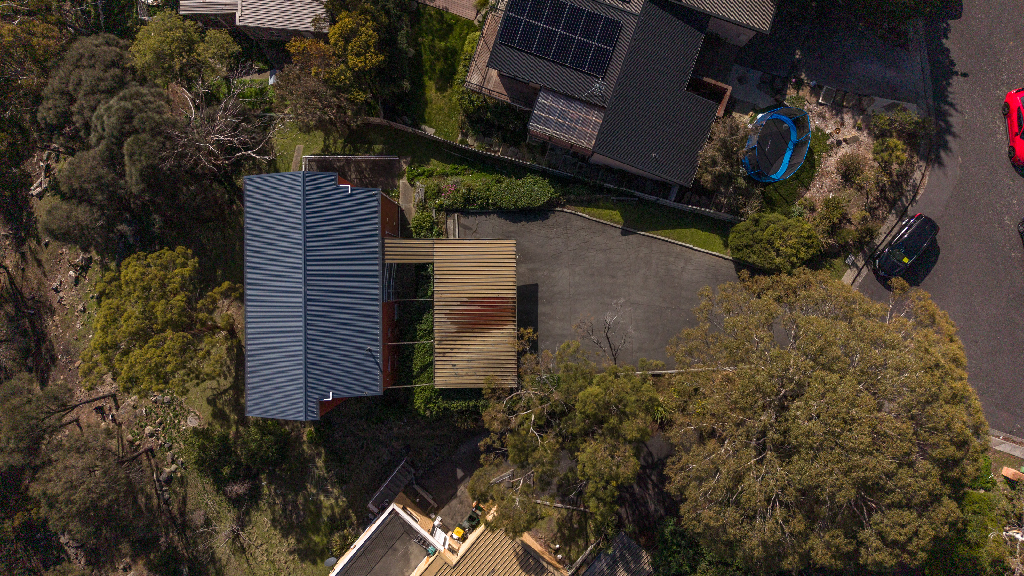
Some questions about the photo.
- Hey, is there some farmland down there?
No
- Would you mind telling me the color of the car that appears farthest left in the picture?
black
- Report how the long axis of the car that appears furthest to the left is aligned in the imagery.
diagonally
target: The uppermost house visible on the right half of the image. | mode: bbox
[464,0,780,188]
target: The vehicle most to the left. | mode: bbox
[867,208,943,283]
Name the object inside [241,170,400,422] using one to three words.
house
